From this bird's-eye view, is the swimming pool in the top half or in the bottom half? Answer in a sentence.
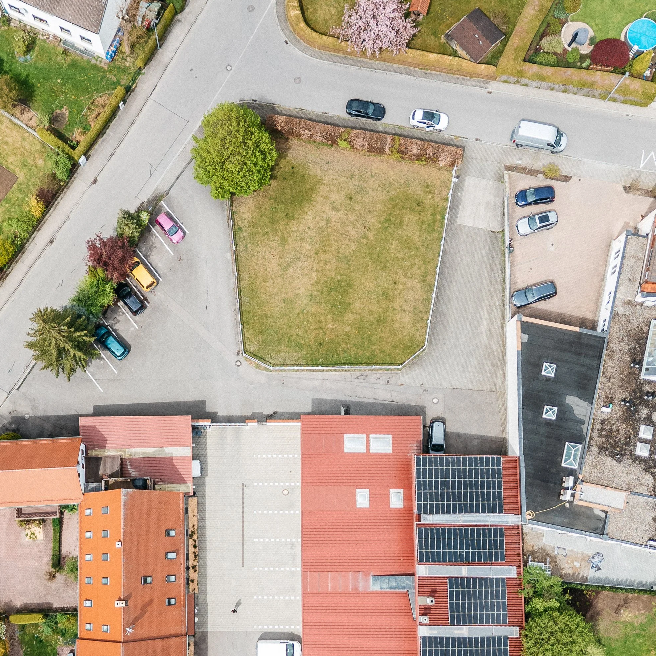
The top half of the photo is where the swimming pool is.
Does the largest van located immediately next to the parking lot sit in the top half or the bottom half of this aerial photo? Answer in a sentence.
The top half of the photo is where the largest van located immediately next to the parking lot is.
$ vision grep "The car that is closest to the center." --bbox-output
[427,419,448,453]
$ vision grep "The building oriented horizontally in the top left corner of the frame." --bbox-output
[0,0,130,54]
